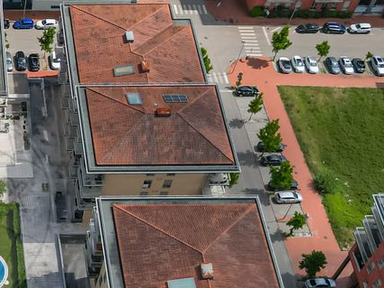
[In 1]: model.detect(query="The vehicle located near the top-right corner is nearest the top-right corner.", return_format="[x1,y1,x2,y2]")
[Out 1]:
[346,21,375,33]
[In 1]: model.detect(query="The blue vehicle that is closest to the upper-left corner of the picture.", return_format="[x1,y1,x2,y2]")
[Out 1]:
[14,17,36,30]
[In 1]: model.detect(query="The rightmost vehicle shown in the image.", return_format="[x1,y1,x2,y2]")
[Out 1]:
[370,54,384,76]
